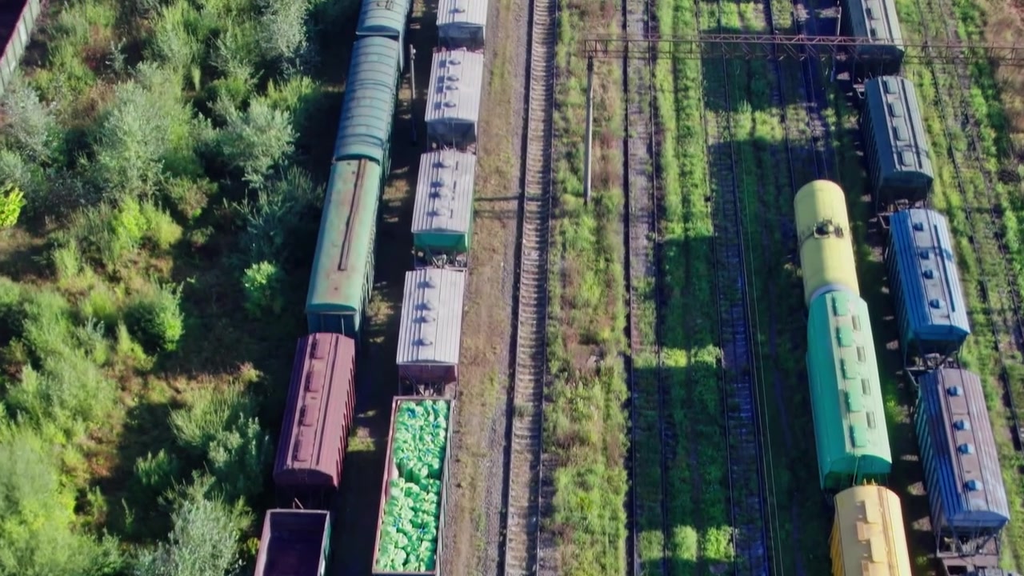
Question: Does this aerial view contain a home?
No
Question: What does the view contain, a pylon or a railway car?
railway car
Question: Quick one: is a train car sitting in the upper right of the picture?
Yes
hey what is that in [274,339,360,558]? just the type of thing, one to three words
rail car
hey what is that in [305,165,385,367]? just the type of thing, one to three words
rail car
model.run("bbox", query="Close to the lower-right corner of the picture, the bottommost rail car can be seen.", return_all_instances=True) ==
[830,487,911,576]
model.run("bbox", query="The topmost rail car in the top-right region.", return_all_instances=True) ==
[841,0,909,110]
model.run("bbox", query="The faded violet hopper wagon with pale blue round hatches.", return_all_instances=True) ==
[911,376,1009,576]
